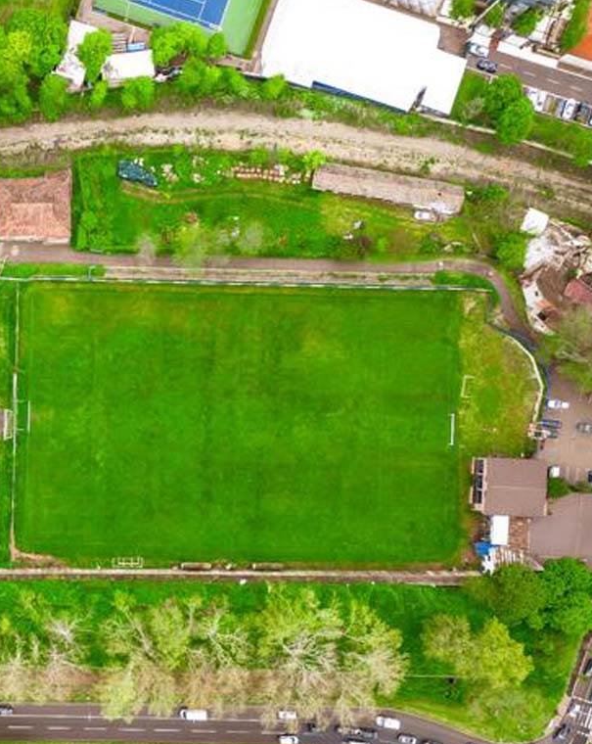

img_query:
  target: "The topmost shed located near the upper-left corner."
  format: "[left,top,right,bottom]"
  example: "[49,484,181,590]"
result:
[68,19,96,48]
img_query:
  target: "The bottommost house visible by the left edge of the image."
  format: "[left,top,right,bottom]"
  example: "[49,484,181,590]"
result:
[0,173,72,246]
